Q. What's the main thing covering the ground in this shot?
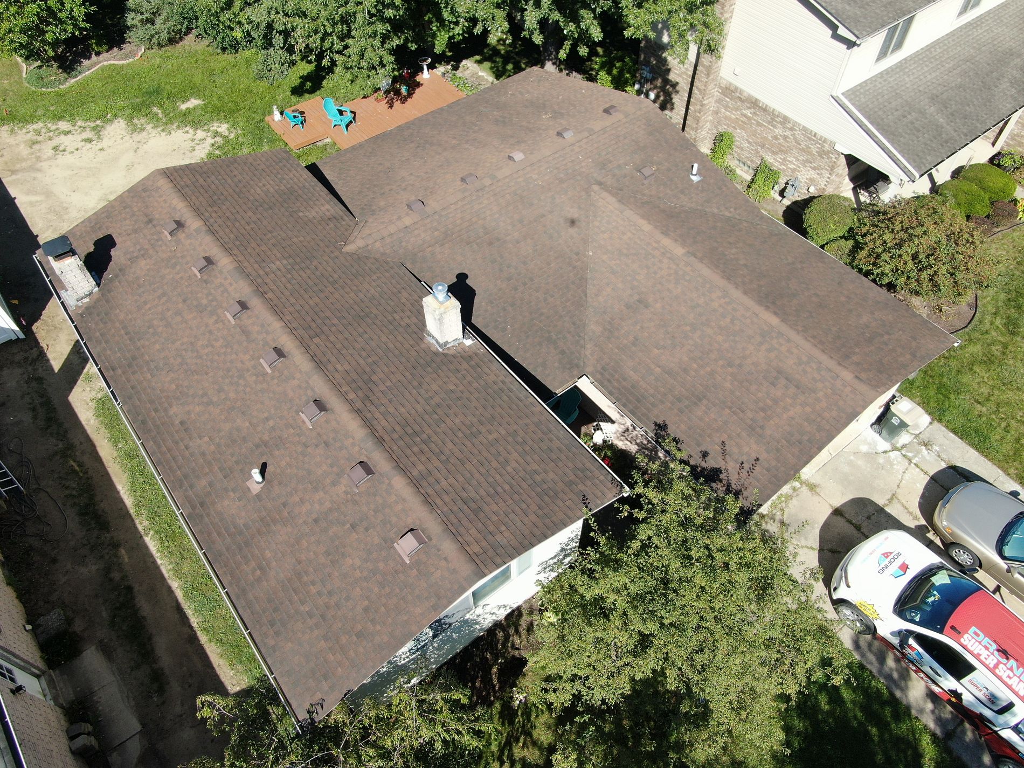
buildings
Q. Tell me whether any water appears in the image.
No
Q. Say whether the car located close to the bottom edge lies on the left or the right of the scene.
right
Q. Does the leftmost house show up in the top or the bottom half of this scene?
bottom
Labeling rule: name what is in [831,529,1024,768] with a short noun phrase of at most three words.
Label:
car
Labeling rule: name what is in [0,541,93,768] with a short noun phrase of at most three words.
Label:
house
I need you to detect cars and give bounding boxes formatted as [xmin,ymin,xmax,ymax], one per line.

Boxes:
[831,529,1024,768]
[923,477,1024,602]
